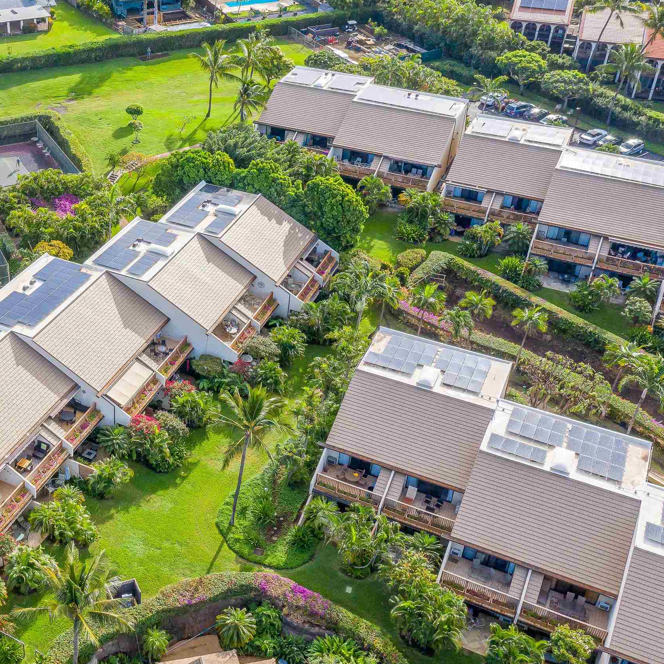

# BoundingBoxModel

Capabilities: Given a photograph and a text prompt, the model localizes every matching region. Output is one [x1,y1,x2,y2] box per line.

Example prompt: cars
[484,98,511,112]
[594,135,625,150]
[504,99,533,116]
[479,92,504,104]
[539,114,567,124]
[615,137,645,154]
[576,129,607,144]
[521,107,550,121]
